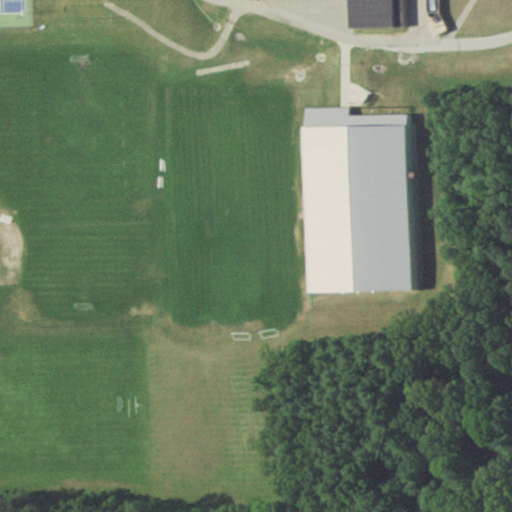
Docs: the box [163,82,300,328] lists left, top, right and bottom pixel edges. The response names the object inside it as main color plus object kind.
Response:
green sports field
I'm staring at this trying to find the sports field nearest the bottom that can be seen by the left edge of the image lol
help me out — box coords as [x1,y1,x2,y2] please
[0,330,150,482]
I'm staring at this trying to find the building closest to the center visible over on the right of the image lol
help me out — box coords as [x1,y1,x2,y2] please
[302,106,419,294]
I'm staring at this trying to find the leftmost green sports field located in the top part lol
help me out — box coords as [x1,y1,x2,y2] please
[0,42,162,318]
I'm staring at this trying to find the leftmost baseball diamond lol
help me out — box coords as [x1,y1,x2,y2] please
[0,220,24,285]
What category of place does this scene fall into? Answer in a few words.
sports ground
